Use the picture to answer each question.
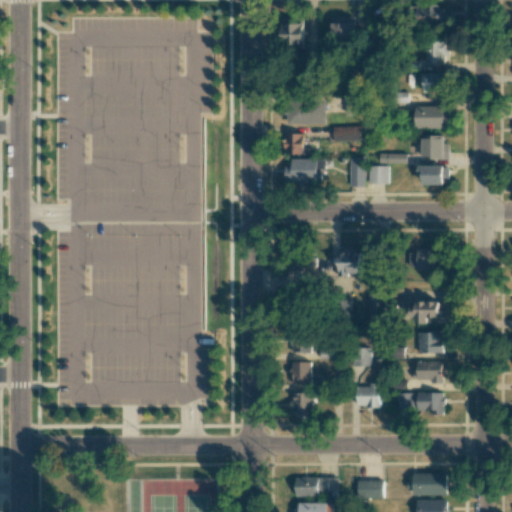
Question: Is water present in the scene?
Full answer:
No, the picture contains no water.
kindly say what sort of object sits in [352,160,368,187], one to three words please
building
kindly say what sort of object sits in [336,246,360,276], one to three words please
house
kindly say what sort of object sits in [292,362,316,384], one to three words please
house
